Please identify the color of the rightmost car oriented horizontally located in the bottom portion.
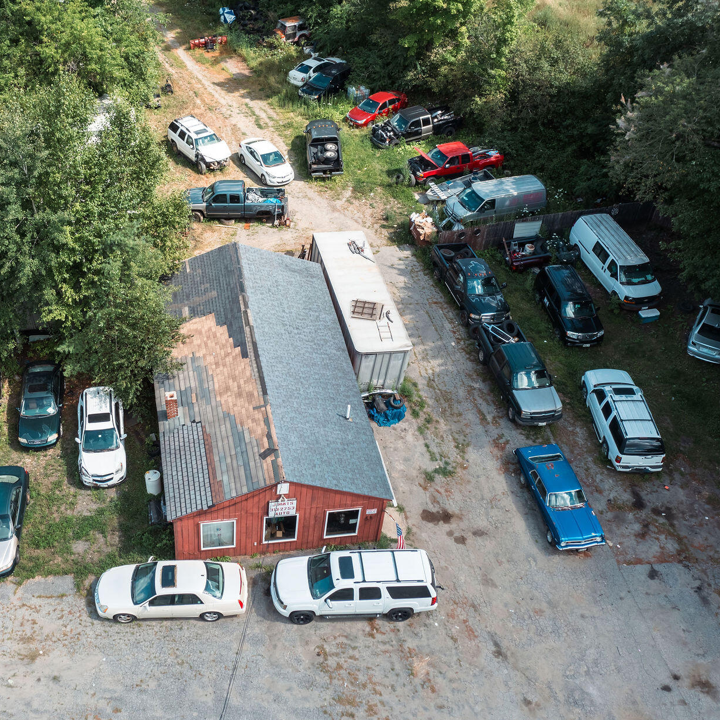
white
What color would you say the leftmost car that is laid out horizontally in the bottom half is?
white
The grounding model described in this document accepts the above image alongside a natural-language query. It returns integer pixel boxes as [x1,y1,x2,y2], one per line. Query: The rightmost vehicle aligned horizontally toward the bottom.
[270,545,438,619]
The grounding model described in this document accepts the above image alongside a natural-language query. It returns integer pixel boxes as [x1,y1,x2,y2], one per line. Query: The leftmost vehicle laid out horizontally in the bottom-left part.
[92,558,248,625]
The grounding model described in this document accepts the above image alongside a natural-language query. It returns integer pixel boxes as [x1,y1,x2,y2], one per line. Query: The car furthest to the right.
[676,292,720,366]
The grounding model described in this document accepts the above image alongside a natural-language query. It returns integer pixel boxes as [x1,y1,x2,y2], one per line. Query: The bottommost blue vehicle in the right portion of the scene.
[508,443,600,551]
